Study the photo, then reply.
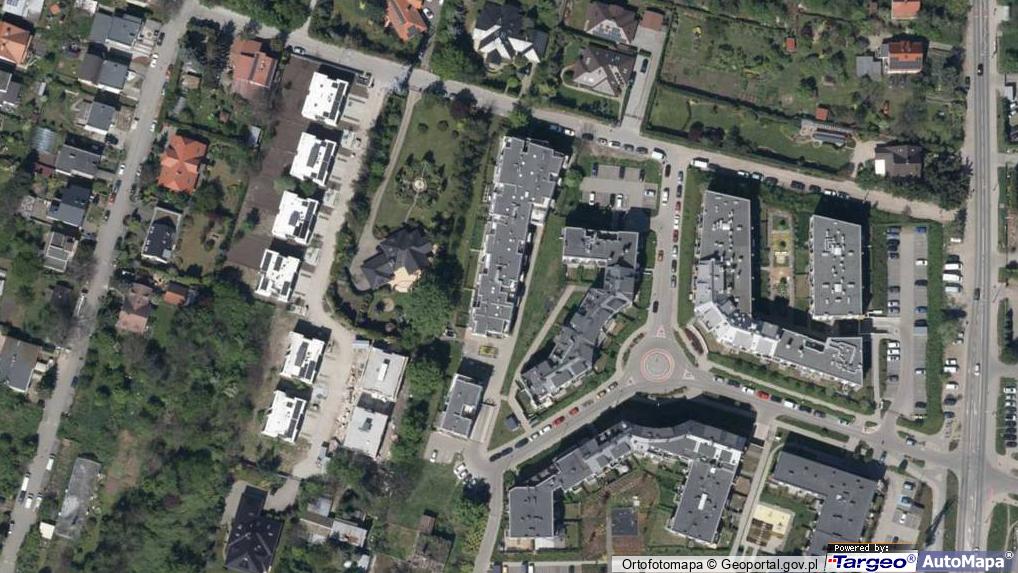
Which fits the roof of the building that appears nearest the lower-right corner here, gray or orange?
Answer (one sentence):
The color of the roof of the building that appears nearest the lower-right corner is gray.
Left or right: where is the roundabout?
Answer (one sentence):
The roundabout appears in the right half of the scene.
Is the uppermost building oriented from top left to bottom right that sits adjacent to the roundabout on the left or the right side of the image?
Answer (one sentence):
The uppermost building oriented from top left to bottom right that sits adjacent to the roundabout appears in the right half of the scene.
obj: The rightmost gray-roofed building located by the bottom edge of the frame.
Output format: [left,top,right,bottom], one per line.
[765,452,877,573]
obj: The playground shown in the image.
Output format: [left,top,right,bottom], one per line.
[745,500,797,550]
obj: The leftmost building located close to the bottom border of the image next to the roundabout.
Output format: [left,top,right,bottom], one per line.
[506,420,746,550]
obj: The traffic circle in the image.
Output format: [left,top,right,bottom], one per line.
[624,324,706,395]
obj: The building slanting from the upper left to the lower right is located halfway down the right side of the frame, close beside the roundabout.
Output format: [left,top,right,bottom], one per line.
[689,191,862,393]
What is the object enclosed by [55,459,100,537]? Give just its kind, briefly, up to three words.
barn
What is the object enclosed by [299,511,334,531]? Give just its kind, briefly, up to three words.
shed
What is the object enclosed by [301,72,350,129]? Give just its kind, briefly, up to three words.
house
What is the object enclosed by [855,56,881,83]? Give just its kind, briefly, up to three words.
building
